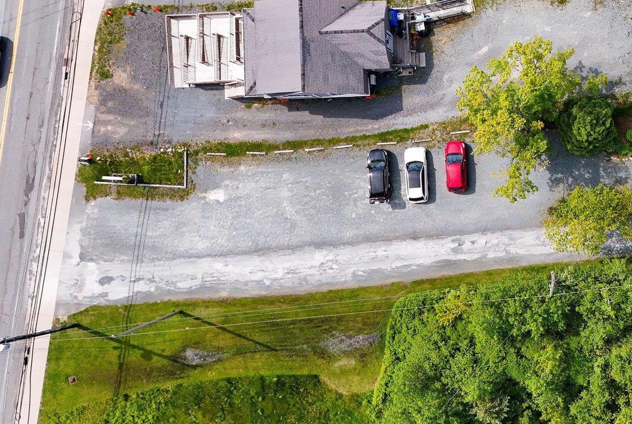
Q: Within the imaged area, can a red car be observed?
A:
Yes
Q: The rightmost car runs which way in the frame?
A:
up and down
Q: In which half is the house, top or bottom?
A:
top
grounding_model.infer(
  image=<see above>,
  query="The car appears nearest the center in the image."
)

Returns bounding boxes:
[365,148,393,204]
